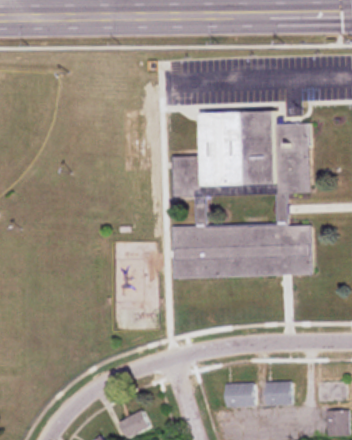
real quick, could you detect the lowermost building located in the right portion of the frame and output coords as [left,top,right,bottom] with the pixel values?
[328,412,352,438]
